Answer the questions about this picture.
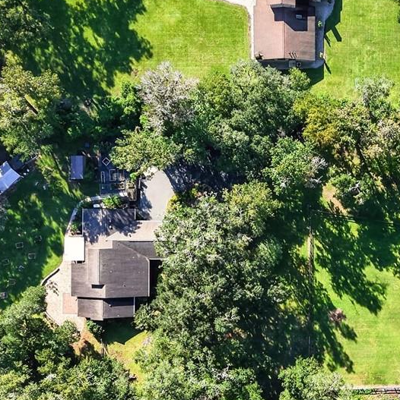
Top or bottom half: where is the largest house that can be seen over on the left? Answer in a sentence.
Seen from above, the largest house that can be seen over on the left lies in the bottom half of the view.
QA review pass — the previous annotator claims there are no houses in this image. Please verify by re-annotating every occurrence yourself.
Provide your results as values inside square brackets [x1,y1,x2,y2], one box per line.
[254,0,322,61]
[64,209,173,320]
